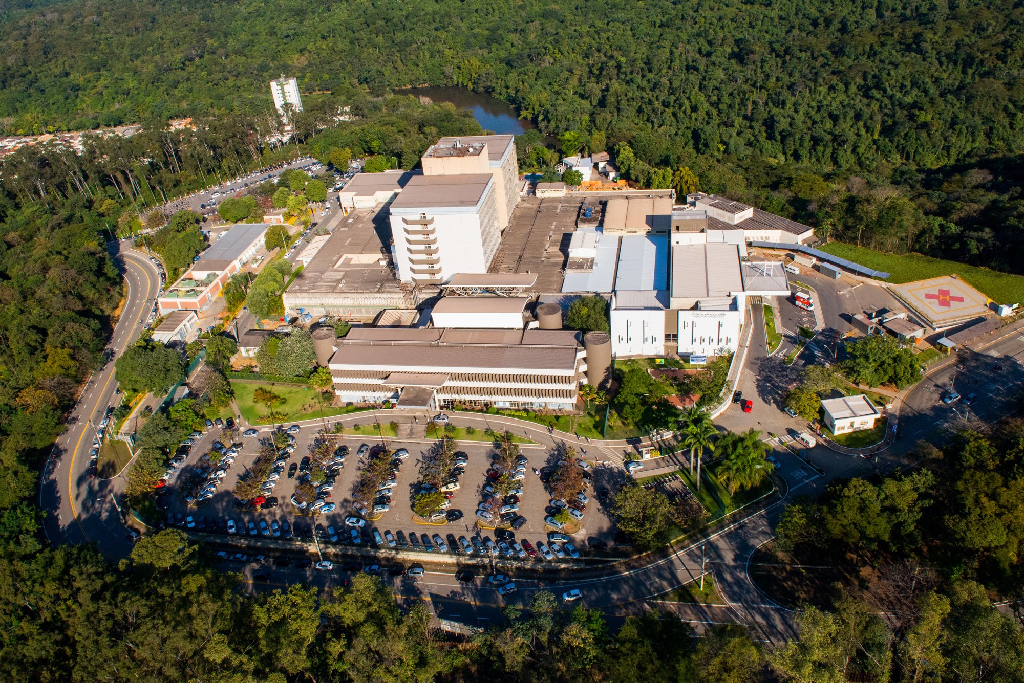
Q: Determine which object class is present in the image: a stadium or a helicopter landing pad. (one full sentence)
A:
I can see a helicopter landing pad in this picture.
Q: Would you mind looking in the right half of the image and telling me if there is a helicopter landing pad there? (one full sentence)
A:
Yes, a helicopter landing pad is visible in the right half of the image.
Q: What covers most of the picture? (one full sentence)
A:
For the most part, this view shows trees.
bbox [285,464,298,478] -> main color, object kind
black vehicle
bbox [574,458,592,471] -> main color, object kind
gray vehicle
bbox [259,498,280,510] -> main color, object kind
black vehicle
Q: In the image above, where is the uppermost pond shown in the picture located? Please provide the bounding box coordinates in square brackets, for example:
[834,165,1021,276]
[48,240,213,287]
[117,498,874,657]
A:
[412,84,542,151]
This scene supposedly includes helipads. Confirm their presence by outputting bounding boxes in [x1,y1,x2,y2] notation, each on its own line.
[887,274,997,331]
